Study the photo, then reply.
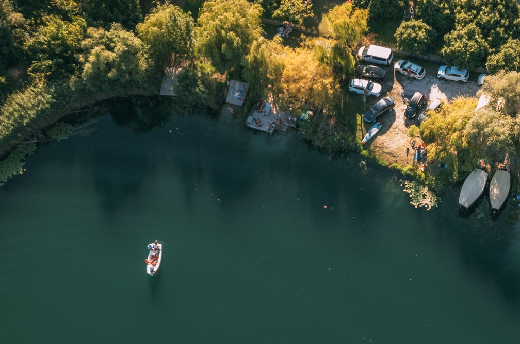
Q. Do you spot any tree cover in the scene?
Yes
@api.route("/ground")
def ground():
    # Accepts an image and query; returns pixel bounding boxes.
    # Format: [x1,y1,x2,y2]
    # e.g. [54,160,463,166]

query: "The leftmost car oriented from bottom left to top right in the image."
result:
[362,97,397,124]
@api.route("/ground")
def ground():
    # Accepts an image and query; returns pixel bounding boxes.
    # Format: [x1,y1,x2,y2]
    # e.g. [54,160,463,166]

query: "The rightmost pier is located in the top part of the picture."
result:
[246,96,302,135]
